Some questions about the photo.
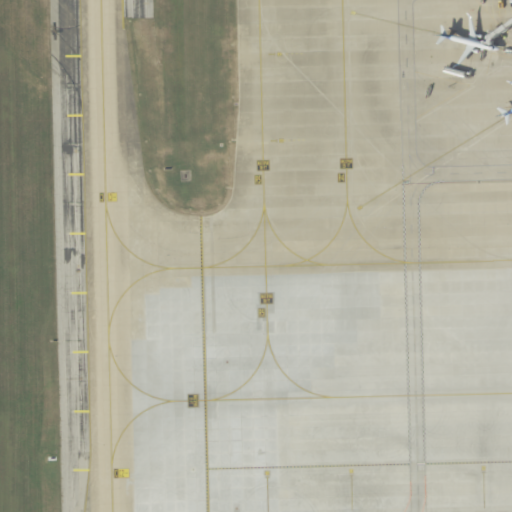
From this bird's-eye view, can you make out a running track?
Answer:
No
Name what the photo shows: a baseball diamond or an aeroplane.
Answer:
aeroplane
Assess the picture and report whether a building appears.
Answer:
No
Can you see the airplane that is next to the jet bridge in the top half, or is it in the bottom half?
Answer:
top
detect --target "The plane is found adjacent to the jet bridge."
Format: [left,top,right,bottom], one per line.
[436,14,498,64]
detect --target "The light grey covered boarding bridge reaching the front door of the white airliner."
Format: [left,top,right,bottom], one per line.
[486,18,512,46]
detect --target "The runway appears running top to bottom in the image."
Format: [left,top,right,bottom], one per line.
[50,0,98,512]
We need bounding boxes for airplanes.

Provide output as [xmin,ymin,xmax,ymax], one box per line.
[436,14,498,64]
[498,108,512,124]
